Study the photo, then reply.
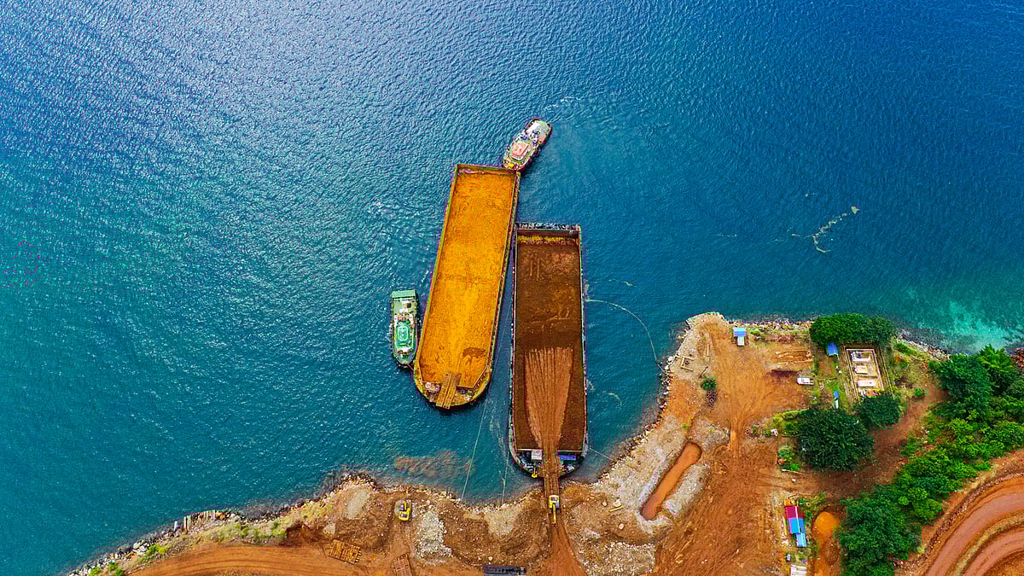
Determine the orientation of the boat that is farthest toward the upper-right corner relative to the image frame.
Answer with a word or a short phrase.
at an angle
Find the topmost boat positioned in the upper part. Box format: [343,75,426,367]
[503,114,553,170]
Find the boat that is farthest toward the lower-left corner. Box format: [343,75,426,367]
[390,288,420,368]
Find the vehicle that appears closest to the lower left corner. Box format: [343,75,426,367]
[397,495,410,522]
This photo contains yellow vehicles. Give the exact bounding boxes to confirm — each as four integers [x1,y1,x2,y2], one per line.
[397,495,410,522]
[548,492,559,528]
